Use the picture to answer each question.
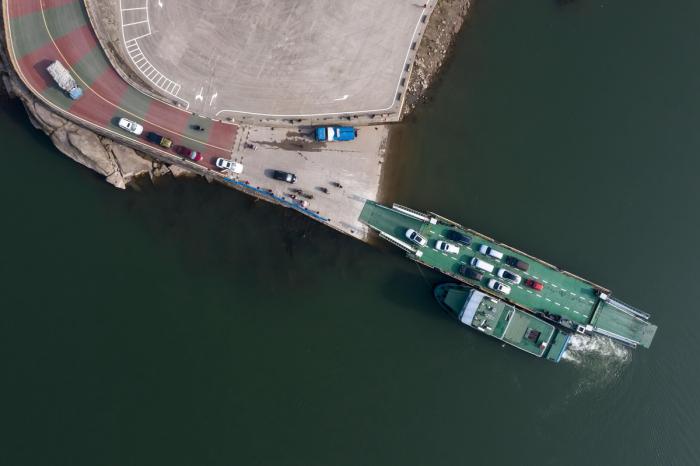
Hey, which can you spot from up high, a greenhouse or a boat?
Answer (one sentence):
It is a boat that can be seen here.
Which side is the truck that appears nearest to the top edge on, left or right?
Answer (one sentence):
The truck that appears nearest to the top edge appears in the left half of the scene.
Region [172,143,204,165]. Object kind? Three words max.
truck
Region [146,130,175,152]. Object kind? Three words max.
truck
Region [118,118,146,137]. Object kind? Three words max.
car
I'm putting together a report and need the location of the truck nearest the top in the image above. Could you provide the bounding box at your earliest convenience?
[49,63,88,102]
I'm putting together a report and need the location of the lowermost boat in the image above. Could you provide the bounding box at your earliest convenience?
[434,284,571,362]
